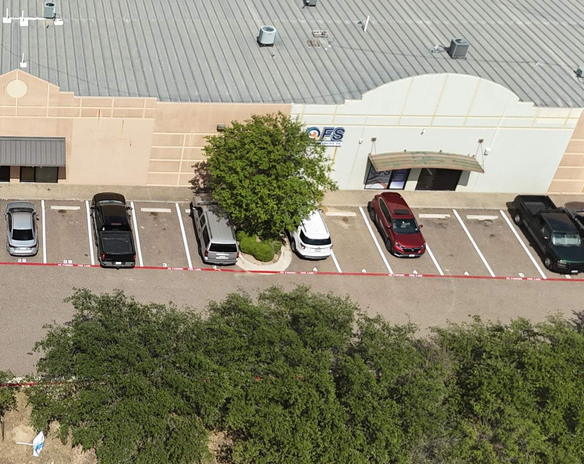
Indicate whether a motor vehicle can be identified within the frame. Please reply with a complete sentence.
Yes, a motor vehicle is visible in the scene.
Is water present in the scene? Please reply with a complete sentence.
No, the scene doesn't show any water.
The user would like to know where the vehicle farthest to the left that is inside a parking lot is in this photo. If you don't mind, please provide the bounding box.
[4,201,42,257]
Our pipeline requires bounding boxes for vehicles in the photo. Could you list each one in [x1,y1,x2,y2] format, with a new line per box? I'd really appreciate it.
[4,201,42,257]
[192,201,239,265]
[279,203,332,259]
[511,200,584,273]
[90,199,133,269]
[371,197,423,258]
